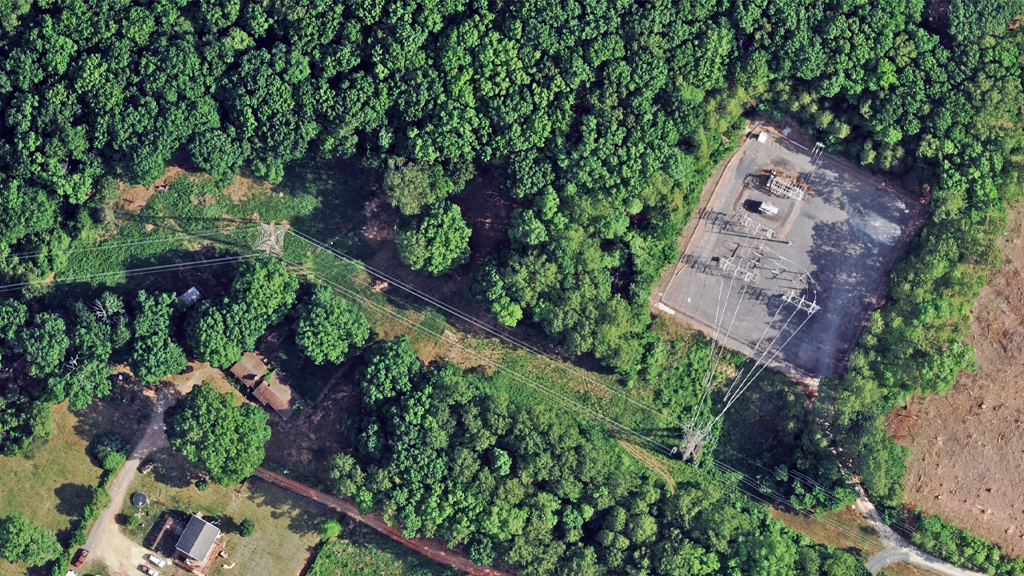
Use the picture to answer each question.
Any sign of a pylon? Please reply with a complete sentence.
Yes, a pylon can be made out from above.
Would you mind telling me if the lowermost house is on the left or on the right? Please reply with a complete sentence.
You can find the lowermost house on the left side of the picture.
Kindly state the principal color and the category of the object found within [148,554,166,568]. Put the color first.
white car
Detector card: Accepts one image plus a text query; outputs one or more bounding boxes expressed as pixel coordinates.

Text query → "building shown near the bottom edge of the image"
[151,516,220,573]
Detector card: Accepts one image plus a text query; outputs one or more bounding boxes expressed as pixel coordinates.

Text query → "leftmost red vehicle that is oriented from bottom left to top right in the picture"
[74,549,88,568]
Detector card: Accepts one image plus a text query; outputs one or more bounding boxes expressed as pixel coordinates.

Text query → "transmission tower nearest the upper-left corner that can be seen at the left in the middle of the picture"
[251,218,290,258]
